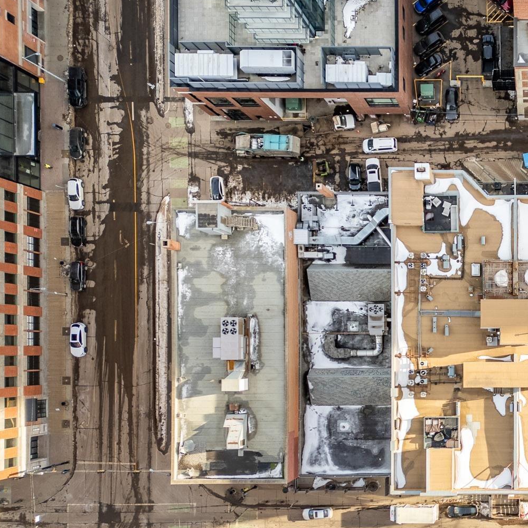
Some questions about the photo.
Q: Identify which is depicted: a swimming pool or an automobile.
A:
automobile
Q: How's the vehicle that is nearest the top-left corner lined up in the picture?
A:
up and down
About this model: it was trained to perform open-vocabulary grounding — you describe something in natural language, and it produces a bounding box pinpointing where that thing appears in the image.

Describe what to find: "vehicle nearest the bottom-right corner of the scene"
[447,503,478,519]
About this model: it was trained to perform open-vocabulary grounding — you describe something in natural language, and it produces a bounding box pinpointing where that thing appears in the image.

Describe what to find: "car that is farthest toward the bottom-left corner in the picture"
[69,323,88,357]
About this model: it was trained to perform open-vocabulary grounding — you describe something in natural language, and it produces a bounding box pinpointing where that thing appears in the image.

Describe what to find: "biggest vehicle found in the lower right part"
[390,504,437,527]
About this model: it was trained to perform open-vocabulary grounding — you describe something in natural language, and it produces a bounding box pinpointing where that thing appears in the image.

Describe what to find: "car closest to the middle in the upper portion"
[208,172,226,203]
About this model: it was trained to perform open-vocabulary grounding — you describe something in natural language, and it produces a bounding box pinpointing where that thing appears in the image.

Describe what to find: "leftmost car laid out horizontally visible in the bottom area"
[302,506,333,522]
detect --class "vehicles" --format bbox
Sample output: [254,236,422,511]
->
[491,0,514,13]
[414,51,444,78]
[365,157,382,191]
[208,172,226,203]
[302,506,333,522]
[67,260,88,293]
[68,126,88,160]
[415,5,448,36]
[412,0,442,15]
[231,132,302,155]
[447,503,478,519]
[412,28,447,59]
[317,113,356,129]
[345,161,362,191]
[390,504,437,527]
[69,323,88,357]
[66,66,87,108]
[363,136,398,154]
[67,178,86,209]
[68,216,88,248]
